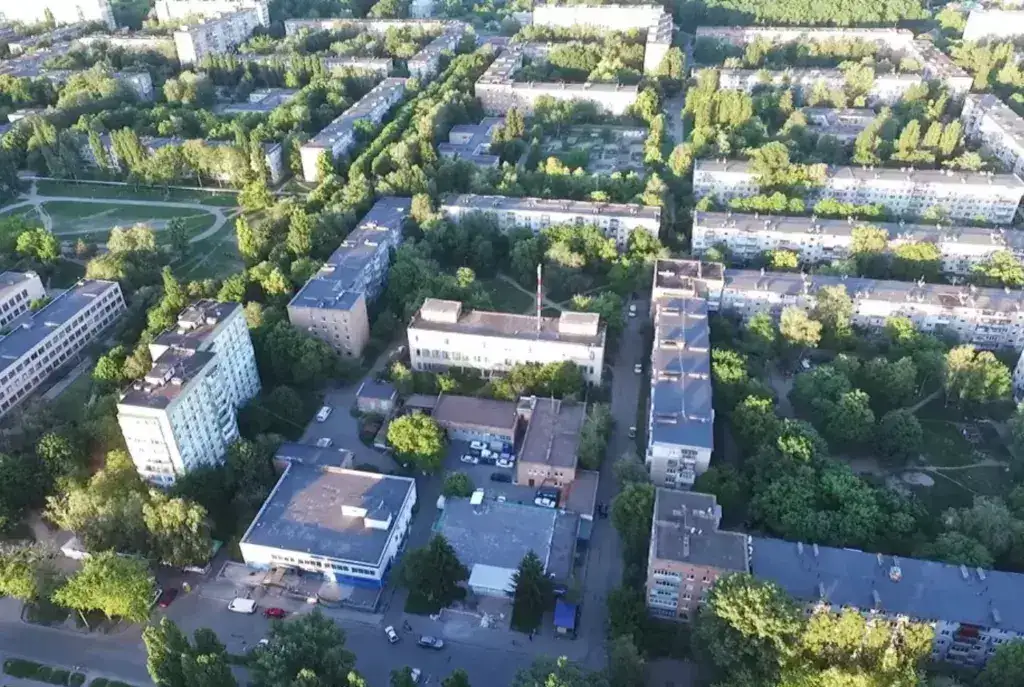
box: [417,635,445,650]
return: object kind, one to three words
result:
car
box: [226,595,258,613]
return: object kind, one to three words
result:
vehicle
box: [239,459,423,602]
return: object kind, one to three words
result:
building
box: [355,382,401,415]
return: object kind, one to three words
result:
shed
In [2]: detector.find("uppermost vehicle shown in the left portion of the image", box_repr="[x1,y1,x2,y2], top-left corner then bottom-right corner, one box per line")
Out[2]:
[315,407,333,420]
